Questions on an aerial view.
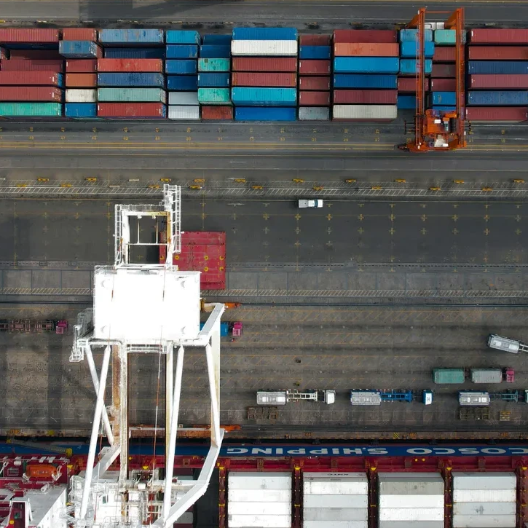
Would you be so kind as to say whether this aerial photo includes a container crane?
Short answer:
Yes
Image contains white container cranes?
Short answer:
Yes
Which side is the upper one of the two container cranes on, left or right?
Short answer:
right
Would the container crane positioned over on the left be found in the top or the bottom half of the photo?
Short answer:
bottom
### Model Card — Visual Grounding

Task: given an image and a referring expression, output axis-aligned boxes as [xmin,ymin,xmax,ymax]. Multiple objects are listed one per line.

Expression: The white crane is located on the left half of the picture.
[60,179,244,528]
